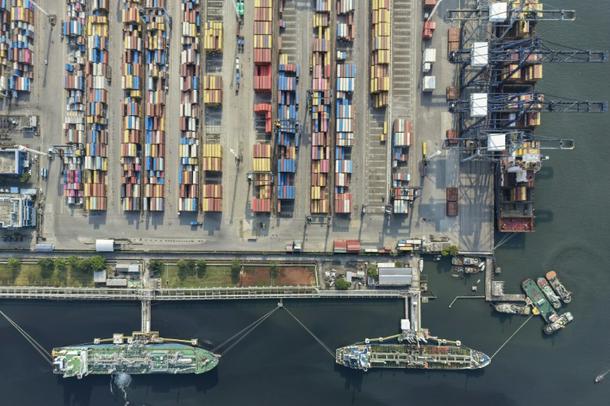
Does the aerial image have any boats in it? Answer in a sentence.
Yes, the image includes a boat.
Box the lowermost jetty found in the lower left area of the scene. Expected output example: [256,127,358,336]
[94,298,198,357]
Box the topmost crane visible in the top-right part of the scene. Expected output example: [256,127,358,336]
[446,0,577,47]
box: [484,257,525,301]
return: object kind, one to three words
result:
pier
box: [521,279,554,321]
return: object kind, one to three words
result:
ship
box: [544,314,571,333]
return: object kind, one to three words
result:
boat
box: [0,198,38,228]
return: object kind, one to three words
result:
building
